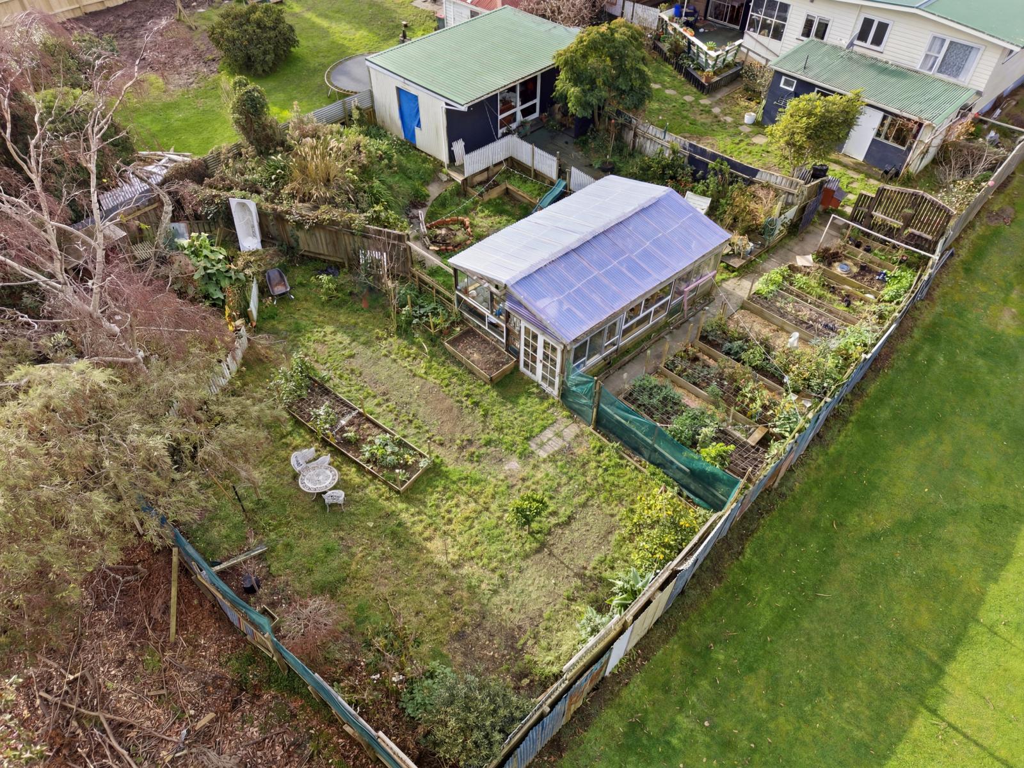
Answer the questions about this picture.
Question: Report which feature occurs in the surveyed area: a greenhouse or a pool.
greenhouse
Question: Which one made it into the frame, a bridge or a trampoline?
trampoline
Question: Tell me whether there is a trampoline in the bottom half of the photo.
No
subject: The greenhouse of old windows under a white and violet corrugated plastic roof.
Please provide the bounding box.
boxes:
[443,175,727,396]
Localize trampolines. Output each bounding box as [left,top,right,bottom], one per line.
[323,59,372,108]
